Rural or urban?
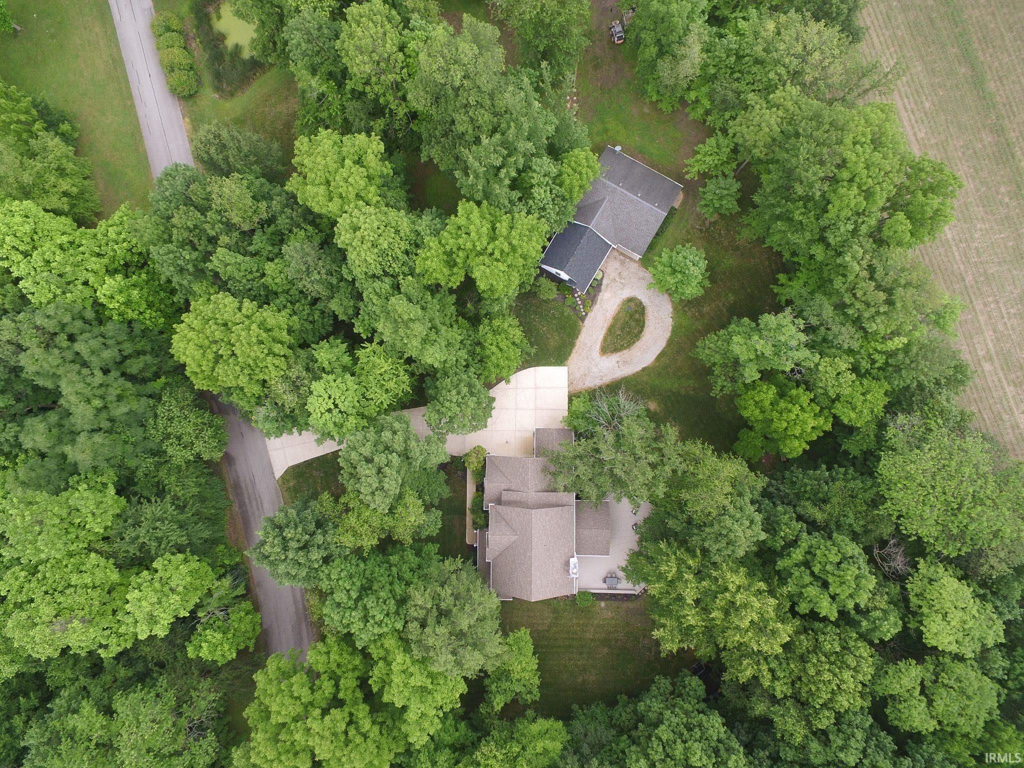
rural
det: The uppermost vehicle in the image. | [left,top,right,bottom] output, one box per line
[609,22,626,46]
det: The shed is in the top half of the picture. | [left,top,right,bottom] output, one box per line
[541,144,684,294]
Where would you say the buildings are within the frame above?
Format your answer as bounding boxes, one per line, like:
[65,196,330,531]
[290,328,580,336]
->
[541,144,684,294]
[476,427,612,602]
